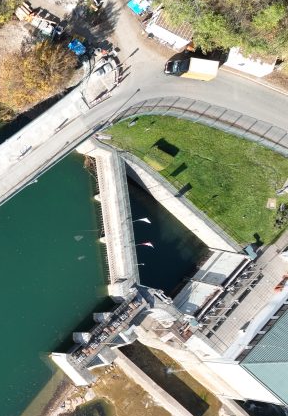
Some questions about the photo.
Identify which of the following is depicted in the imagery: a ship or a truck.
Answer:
truck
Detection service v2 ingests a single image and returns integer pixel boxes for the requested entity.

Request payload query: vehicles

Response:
[16,0,71,40]
[164,53,229,80]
